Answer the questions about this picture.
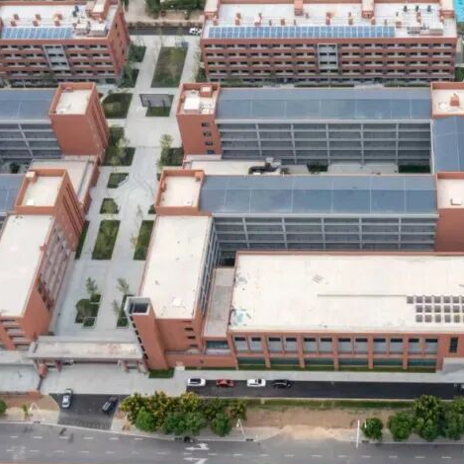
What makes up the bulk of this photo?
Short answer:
buildings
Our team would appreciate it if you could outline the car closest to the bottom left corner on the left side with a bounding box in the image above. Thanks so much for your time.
[58,388,73,406]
